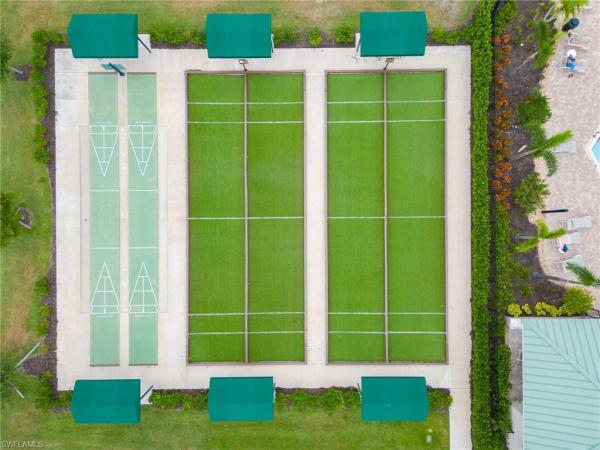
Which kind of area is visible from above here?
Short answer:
sports ground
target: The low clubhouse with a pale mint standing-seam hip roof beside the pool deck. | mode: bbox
[512,313,600,450]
